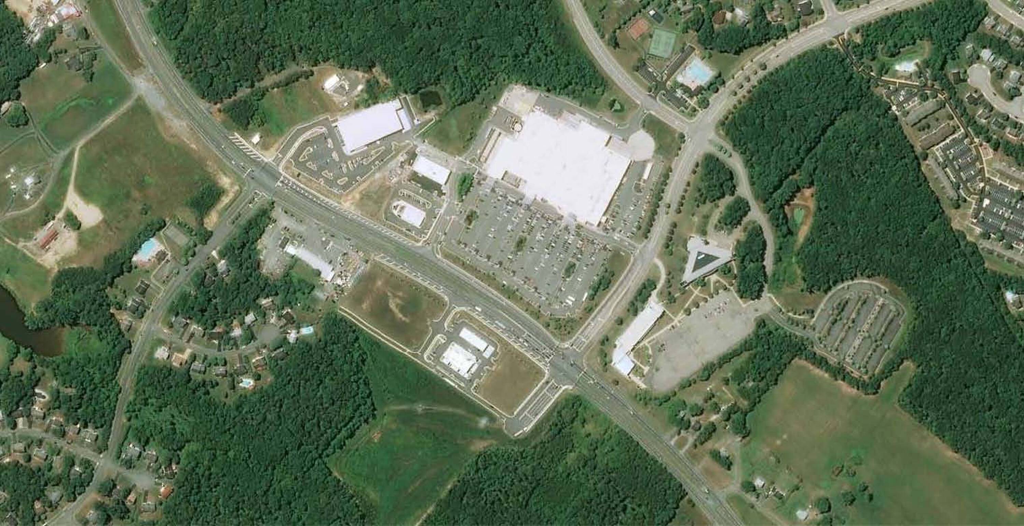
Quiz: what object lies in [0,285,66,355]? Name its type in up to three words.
pond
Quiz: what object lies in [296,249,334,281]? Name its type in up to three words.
building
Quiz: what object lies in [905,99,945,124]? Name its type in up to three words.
building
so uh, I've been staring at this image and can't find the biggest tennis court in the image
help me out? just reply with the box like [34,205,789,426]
[648,28,676,58]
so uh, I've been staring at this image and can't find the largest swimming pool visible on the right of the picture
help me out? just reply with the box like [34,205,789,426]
[677,57,717,90]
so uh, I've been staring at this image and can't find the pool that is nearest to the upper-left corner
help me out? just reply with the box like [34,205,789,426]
[133,238,167,267]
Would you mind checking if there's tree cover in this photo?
Yes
